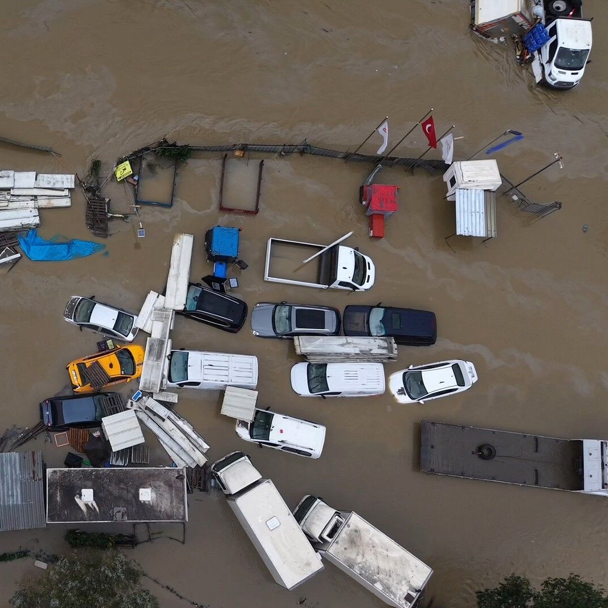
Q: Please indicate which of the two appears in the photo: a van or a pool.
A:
van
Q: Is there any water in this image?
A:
Yes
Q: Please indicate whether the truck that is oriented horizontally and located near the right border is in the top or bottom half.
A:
bottom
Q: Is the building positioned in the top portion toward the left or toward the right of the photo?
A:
right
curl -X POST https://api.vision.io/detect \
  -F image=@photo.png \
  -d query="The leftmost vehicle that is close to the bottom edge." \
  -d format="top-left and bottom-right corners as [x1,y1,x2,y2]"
[205,450,324,590]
